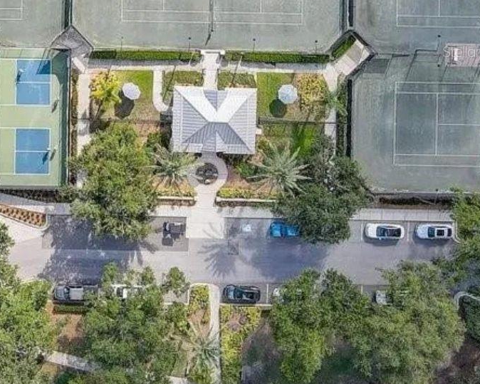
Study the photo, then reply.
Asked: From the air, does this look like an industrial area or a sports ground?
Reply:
sports ground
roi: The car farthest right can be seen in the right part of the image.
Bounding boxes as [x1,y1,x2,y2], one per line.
[418,224,455,242]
